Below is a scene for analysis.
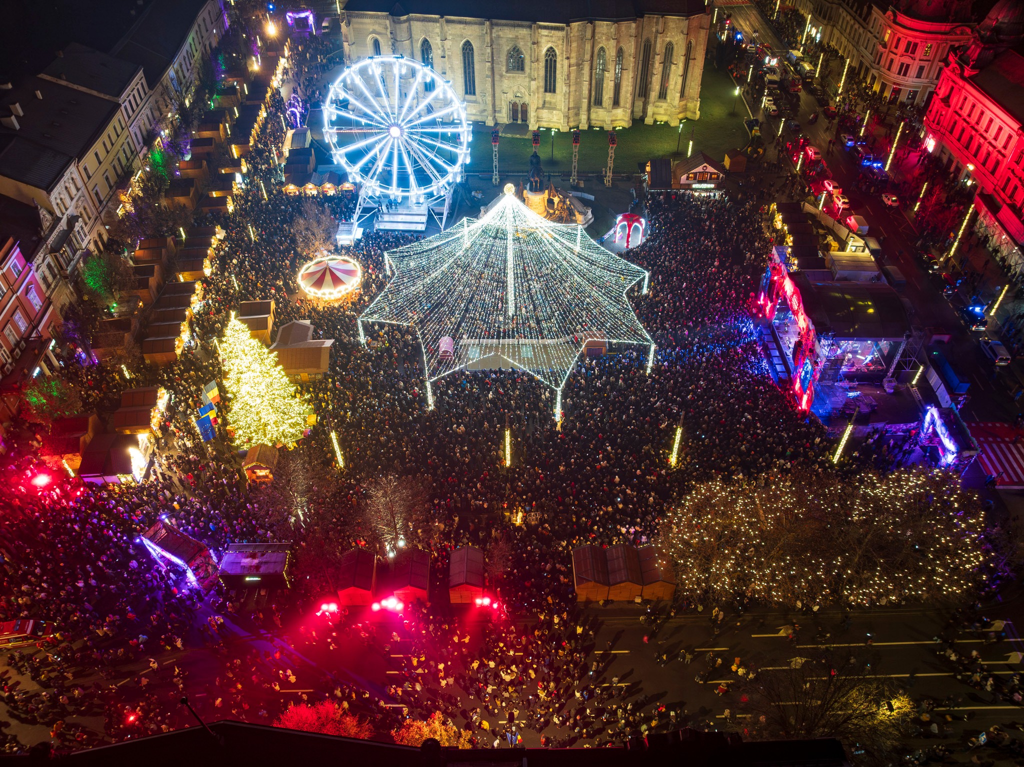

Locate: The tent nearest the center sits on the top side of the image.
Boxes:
[615,219,646,252]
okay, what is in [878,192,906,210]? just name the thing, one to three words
car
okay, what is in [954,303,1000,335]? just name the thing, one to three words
van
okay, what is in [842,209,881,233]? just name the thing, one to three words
truck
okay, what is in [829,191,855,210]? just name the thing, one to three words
car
